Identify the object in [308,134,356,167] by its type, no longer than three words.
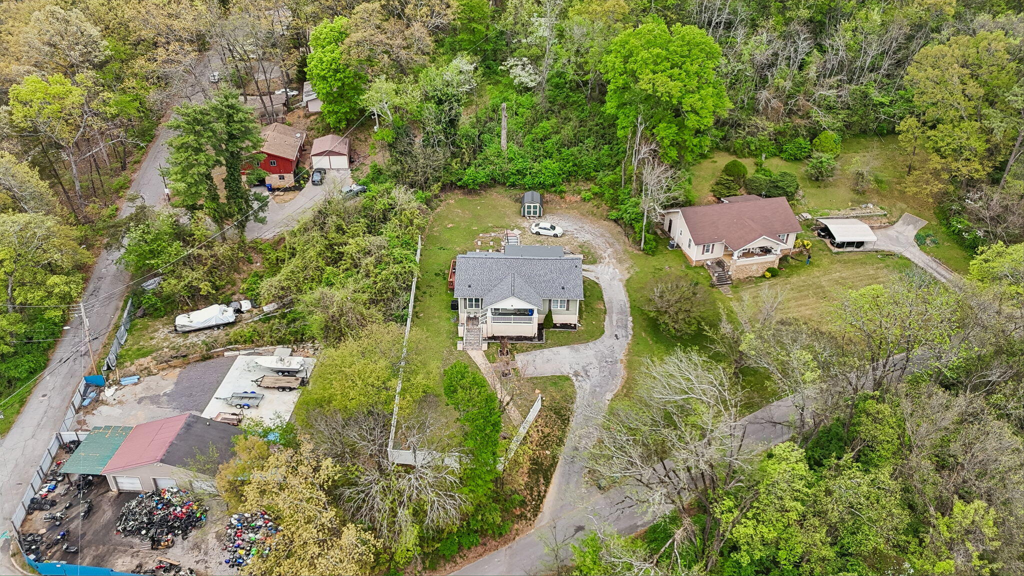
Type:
building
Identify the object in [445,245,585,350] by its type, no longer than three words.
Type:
house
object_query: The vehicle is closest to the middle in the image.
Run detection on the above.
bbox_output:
[529,221,563,237]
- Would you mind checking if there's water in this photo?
No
